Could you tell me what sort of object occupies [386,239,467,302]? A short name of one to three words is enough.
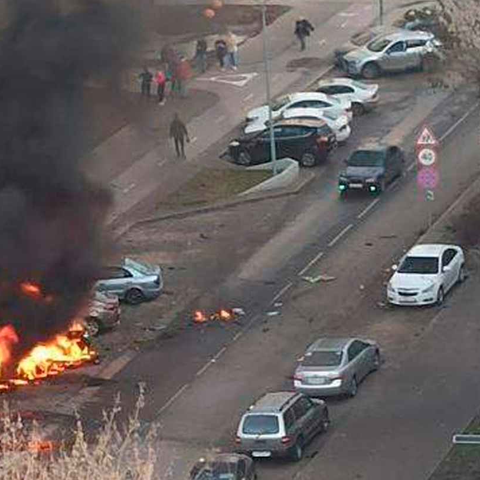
car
